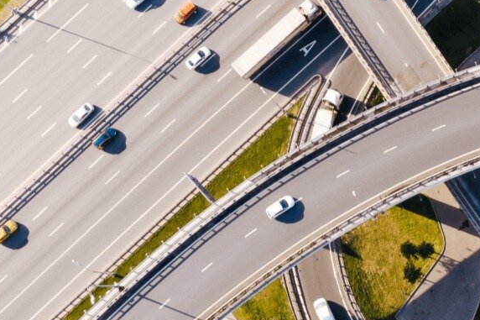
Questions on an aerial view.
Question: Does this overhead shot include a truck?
Yes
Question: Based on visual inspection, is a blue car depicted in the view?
Yes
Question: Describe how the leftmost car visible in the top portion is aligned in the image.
at an angle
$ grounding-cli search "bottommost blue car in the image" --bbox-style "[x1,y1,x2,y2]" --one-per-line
[91,126,119,152]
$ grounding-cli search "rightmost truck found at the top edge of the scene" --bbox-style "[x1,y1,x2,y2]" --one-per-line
[233,0,320,77]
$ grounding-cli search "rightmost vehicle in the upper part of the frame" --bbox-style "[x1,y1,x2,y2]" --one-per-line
[307,83,346,140]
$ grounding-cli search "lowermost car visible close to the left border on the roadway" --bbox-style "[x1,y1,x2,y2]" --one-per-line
[0,219,18,243]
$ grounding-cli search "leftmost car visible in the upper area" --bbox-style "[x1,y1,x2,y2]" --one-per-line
[68,102,97,129]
